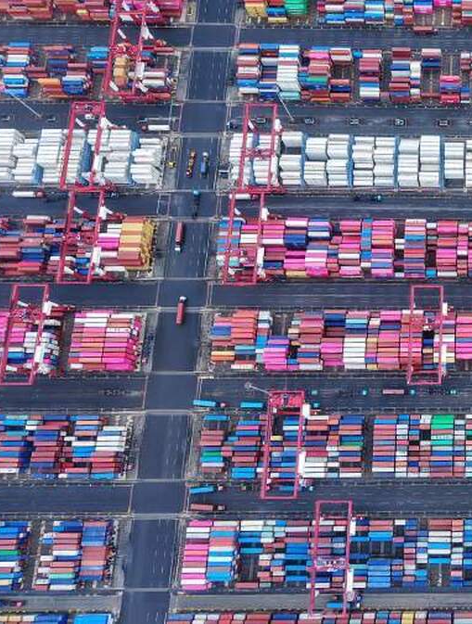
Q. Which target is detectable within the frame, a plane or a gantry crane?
gantry crane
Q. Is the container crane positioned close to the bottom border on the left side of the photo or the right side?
right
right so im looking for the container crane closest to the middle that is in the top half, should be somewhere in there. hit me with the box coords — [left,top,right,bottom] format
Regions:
[222,191,276,285]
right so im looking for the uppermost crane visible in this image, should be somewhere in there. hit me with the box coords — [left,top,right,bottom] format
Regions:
[115,0,166,22]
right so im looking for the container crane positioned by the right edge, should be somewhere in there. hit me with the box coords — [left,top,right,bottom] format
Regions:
[403,286,452,385]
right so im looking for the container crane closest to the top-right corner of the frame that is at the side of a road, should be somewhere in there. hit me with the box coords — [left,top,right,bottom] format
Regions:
[237,104,290,194]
